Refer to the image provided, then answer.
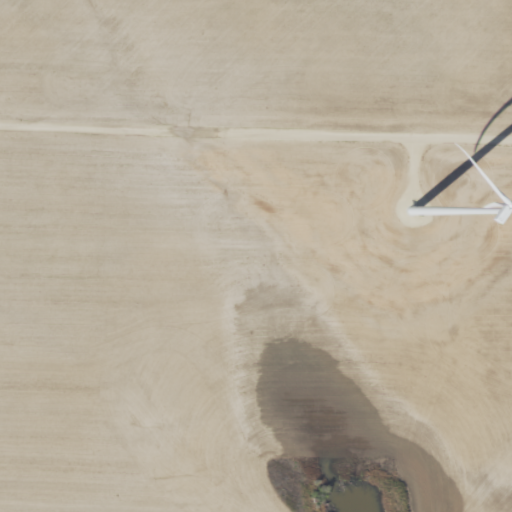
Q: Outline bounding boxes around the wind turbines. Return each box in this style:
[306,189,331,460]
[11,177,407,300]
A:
[406,143,512,224]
